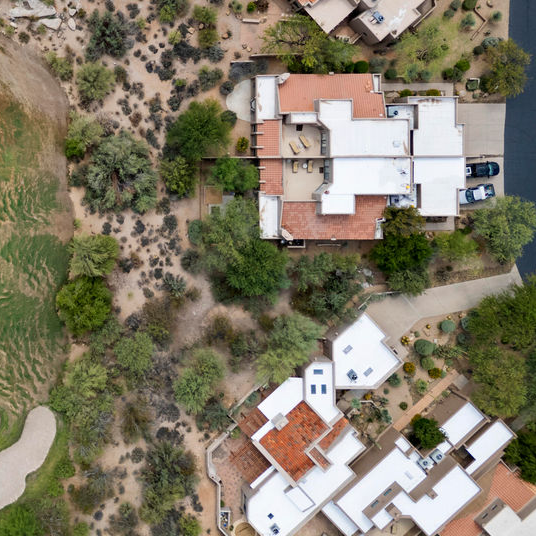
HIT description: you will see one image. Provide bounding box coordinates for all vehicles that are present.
[459,183,498,205]
[465,160,501,179]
